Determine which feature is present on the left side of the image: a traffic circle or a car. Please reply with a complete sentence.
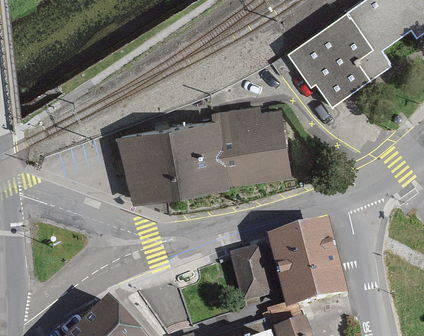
You can see a car on the left side of the image.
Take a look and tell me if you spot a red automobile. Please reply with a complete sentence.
Yes, there is a red automobile in the image.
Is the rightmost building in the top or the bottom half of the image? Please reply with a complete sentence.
The rightmost building sits in the top half of the picture.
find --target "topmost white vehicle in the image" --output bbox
[241,79,262,96]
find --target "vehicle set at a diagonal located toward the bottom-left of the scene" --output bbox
[59,313,82,334]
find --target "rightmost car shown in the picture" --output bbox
[310,101,332,125]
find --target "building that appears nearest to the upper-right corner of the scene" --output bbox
[348,0,424,82]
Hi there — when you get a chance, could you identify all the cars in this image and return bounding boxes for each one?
[241,79,262,96]
[294,76,312,97]
[258,66,280,88]
[59,313,82,334]
[310,101,332,125]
